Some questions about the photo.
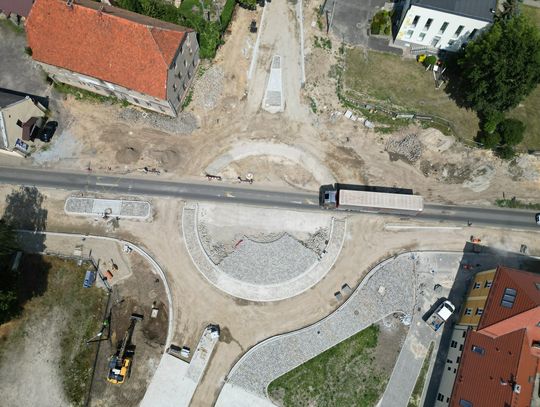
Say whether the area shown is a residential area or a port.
residential area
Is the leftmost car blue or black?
black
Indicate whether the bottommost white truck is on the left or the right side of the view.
right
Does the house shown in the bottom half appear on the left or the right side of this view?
right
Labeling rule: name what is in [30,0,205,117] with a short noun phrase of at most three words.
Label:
house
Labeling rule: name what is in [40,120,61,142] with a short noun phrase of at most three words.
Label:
car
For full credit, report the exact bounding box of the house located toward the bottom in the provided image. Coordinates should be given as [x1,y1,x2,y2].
[431,265,540,407]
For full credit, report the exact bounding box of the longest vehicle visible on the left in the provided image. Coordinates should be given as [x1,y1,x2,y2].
[104,316,140,388]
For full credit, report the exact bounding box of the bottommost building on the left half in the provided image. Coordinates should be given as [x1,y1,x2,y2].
[0,92,46,157]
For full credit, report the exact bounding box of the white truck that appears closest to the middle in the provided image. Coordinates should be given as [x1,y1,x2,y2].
[321,190,424,215]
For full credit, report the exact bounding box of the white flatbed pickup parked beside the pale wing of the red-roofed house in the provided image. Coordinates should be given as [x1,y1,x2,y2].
[426,299,458,332]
